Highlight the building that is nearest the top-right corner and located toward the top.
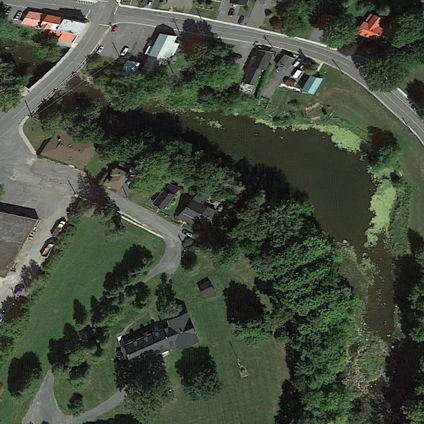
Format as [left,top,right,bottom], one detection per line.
[357,13,385,40]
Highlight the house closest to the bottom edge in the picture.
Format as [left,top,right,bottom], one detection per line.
[116,310,201,361]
